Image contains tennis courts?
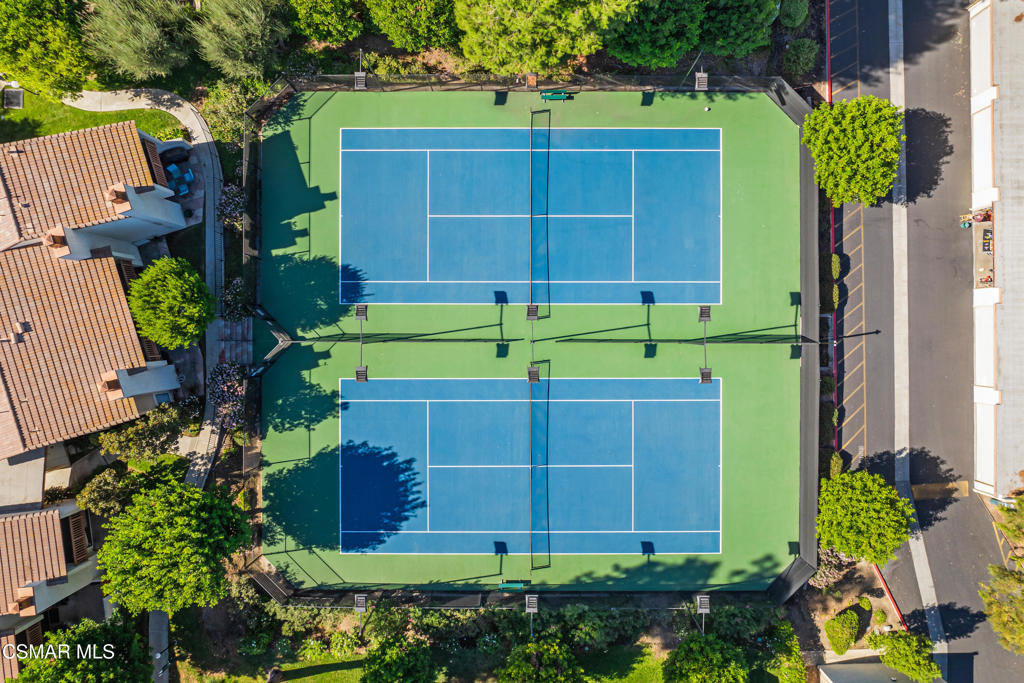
Yes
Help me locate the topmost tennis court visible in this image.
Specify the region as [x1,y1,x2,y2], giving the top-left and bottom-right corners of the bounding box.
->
[256,91,801,342]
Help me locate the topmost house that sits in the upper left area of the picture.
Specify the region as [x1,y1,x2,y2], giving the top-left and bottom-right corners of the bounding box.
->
[0,118,186,252]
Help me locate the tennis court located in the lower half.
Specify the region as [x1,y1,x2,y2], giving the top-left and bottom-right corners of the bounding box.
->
[256,342,800,591]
